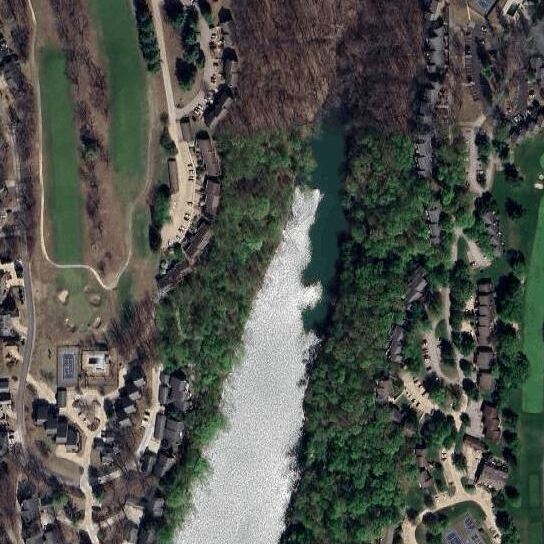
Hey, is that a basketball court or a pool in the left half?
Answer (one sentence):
It is a pool that can be seen in the left half.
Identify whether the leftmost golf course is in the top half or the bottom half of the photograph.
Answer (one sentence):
The top half of the photo is where the leftmost golf course is.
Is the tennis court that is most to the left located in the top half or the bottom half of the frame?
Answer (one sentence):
The tennis court that is most to the left sits in the bottom half of the picture.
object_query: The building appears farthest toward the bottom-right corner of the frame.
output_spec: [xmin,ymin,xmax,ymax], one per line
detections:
[476,459,513,489]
